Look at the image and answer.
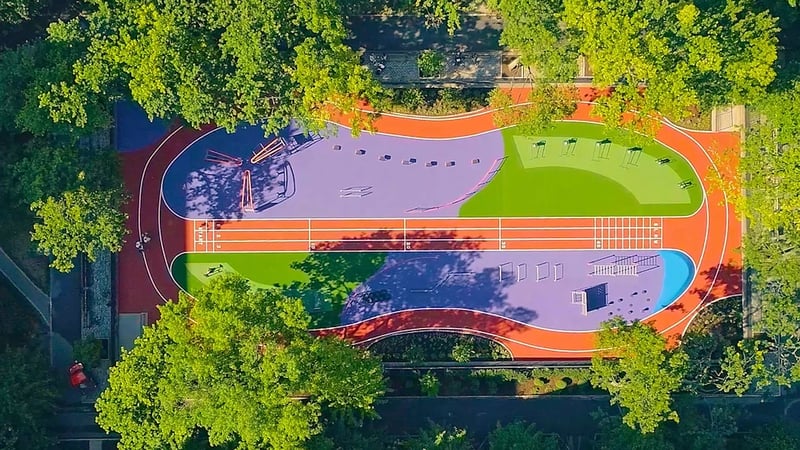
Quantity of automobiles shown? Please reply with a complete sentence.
The photo contains no automobiles.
